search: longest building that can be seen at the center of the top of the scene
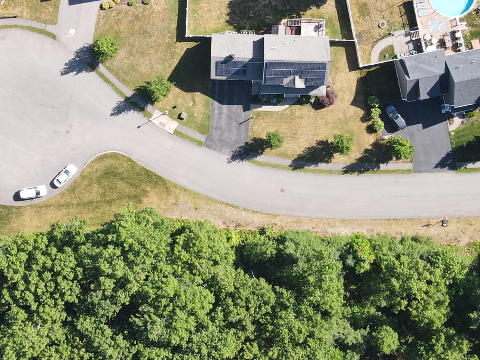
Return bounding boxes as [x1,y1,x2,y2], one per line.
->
[209,33,331,98]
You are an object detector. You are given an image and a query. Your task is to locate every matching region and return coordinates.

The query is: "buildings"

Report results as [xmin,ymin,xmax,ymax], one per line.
[396,49,480,113]
[209,33,331,98]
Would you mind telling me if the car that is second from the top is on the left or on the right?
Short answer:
left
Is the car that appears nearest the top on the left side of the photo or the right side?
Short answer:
right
